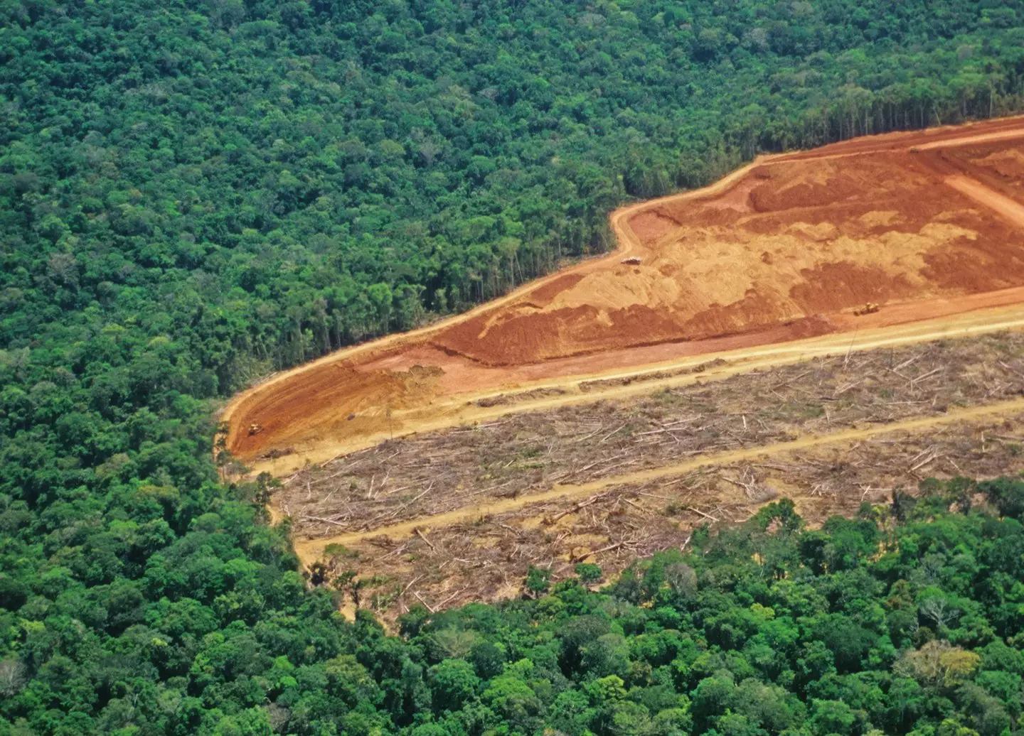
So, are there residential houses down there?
No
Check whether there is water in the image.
No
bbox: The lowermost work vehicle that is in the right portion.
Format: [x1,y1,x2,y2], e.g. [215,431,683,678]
[855,305,877,317]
